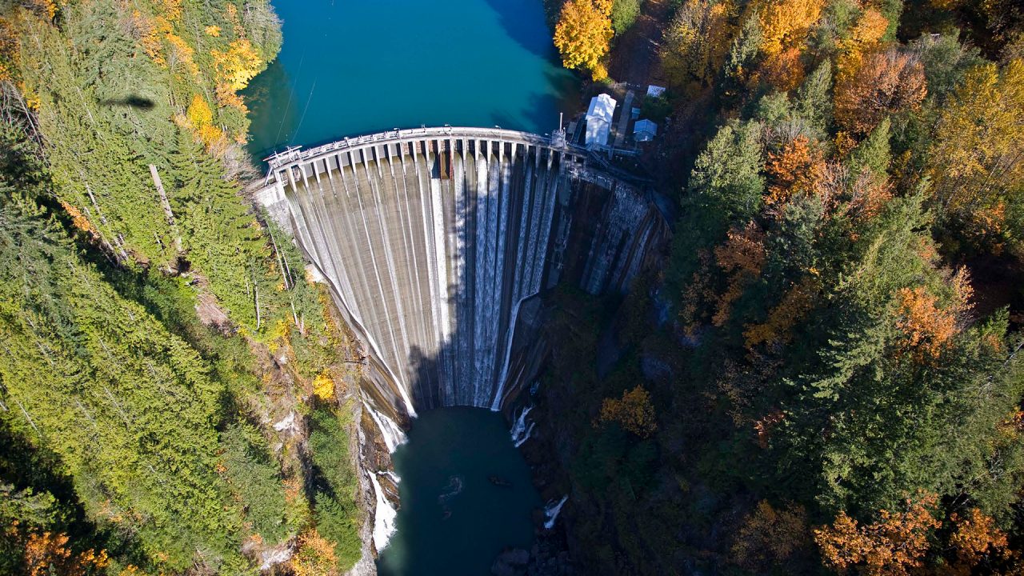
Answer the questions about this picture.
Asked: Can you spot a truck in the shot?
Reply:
No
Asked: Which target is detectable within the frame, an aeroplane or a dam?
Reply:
dam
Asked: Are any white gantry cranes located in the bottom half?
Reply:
No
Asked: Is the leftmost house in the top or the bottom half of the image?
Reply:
top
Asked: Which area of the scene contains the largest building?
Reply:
top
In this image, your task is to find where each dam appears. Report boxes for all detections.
[252,122,680,416]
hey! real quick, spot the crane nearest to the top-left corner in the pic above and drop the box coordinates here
[264,141,303,176]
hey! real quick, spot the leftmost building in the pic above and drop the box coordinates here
[548,103,570,152]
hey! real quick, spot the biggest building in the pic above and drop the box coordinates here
[585,90,621,150]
